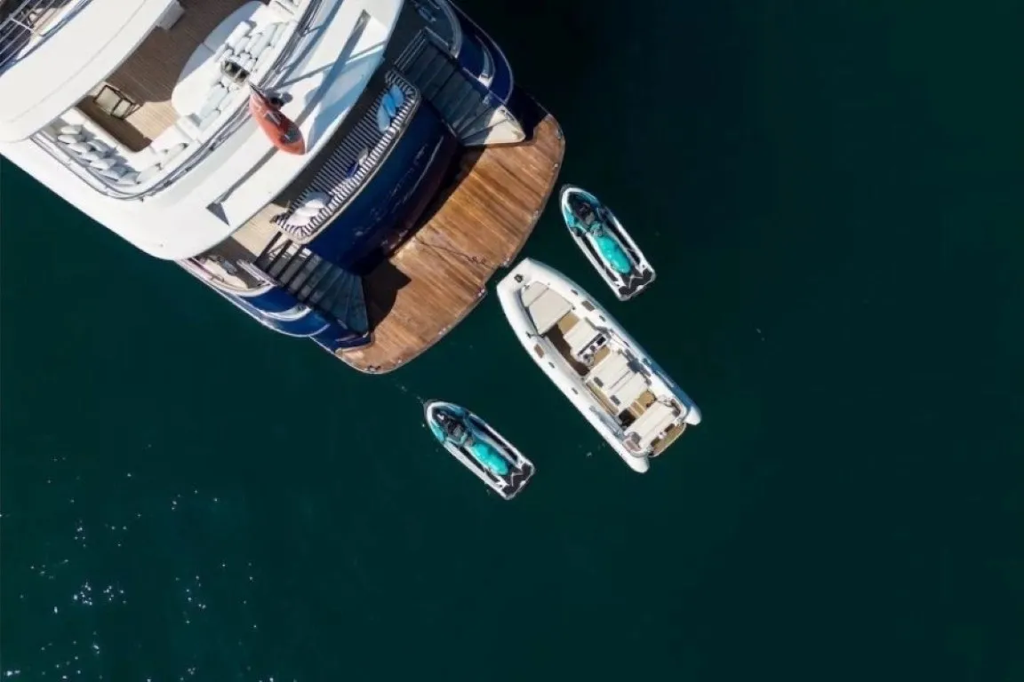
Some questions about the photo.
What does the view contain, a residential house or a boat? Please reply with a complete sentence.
Looking from above, you can make out a boat.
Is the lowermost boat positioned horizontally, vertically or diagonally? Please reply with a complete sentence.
What the image shows is the lowermost boat lying diagonally.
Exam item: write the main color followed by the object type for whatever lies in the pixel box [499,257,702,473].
white boat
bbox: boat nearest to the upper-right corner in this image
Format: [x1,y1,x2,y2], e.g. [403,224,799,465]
[562,185,655,300]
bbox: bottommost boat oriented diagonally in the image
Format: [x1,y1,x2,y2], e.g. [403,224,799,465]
[424,401,534,501]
